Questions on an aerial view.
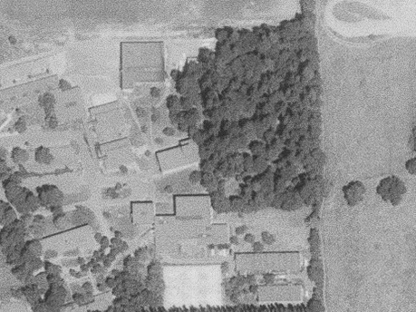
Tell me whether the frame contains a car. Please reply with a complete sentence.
No, the picture doesn't show any car.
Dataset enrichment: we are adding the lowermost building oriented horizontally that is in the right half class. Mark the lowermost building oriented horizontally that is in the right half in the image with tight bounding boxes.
[258,285,303,302]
